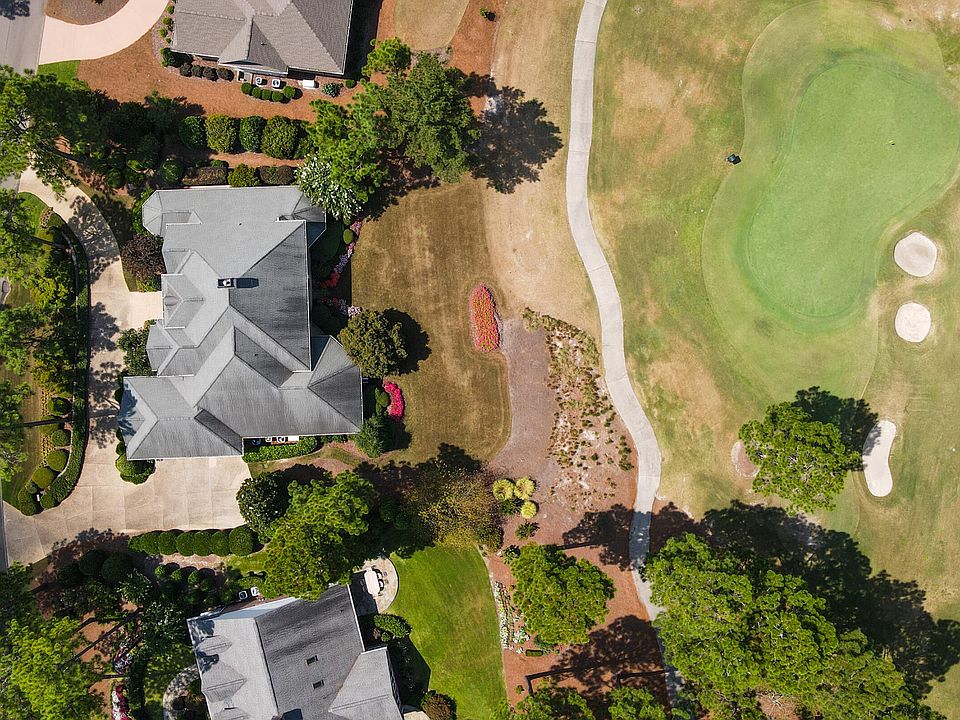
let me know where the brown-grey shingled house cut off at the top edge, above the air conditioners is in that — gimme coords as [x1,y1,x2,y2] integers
[171,0,355,82]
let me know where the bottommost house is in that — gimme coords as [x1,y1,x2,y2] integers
[187,579,406,720]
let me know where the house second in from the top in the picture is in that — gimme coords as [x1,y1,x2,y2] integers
[117,186,362,461]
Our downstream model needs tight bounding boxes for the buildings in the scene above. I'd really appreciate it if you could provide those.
[187,579,406,720]
[117,186,362,461]
[171,0,355,82]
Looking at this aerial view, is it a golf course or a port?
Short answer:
golf course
